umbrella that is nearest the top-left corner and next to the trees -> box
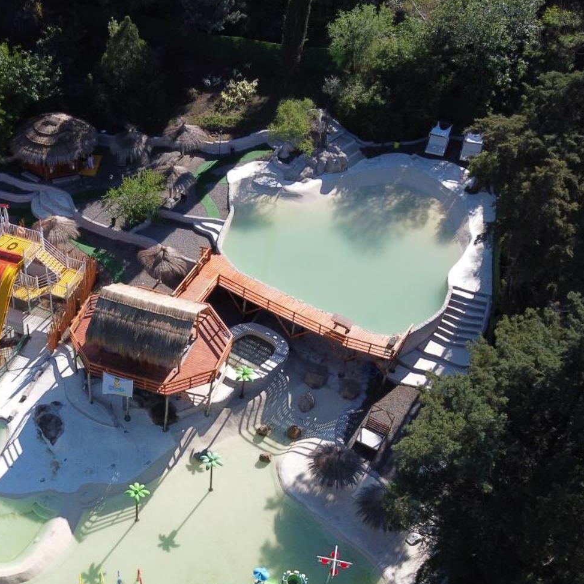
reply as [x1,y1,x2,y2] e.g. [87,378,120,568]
[110,122,149,165]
